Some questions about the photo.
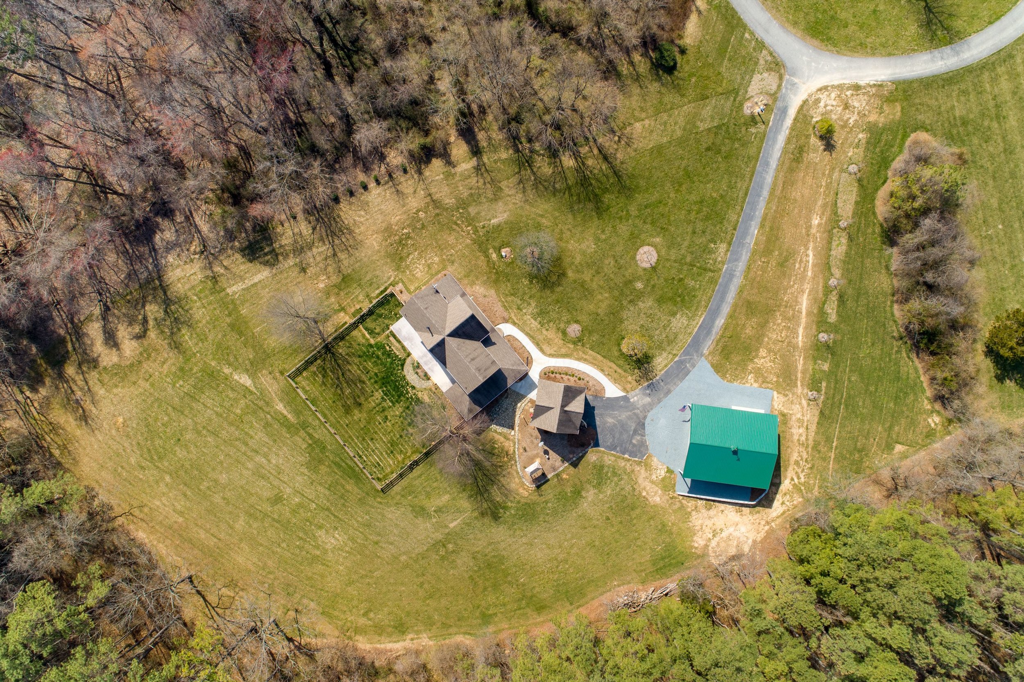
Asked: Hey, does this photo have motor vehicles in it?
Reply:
No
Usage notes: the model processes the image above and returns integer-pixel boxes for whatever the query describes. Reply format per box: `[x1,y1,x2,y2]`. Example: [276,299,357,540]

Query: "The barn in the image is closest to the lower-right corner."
[678,403,779,489]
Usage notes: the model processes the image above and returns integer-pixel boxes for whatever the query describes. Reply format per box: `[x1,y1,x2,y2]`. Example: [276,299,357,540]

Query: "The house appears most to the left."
[399,273,530,420]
